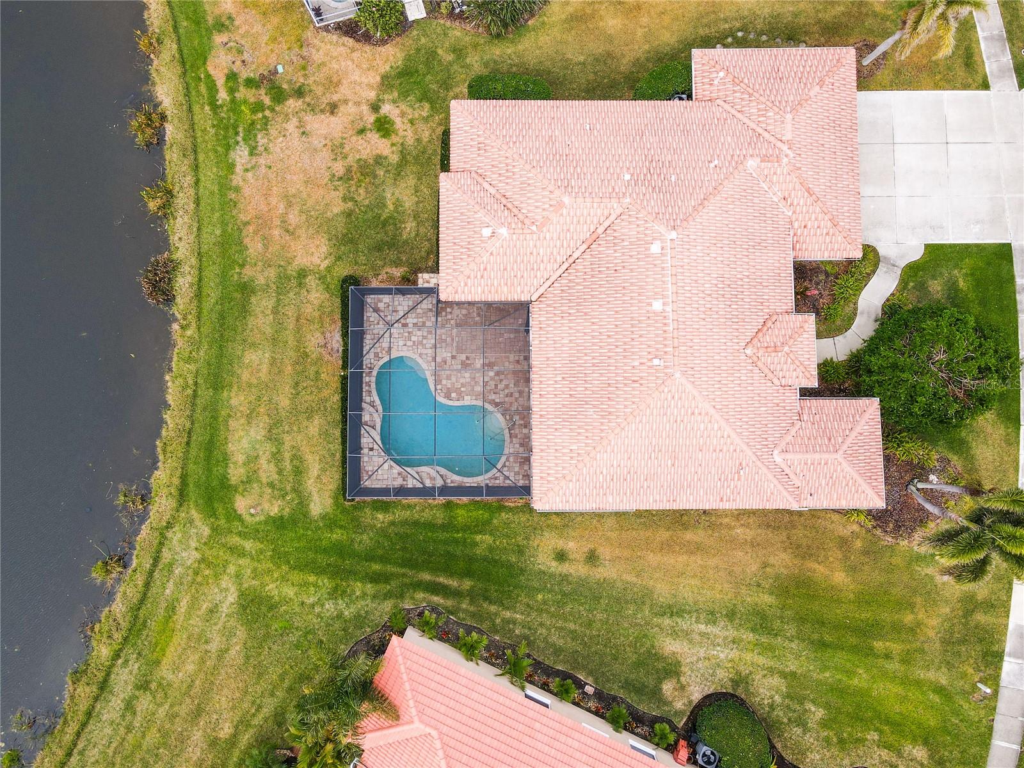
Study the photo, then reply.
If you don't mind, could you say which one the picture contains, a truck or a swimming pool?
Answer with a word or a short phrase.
swimming pool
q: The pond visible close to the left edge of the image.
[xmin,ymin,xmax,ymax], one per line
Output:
[0,0,178,768]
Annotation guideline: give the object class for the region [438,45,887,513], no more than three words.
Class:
house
